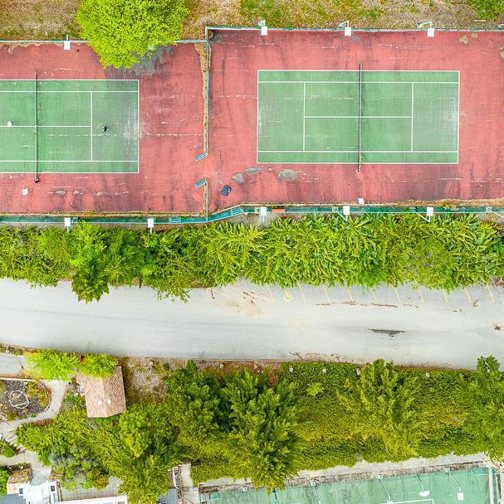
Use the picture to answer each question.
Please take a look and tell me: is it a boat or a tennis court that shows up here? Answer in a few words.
tennis court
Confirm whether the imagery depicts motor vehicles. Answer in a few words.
No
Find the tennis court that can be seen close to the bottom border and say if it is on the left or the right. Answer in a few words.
right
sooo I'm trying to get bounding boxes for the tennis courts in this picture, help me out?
[0,37,220,216]
[209,26,504,217]
[205,468,489,504]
